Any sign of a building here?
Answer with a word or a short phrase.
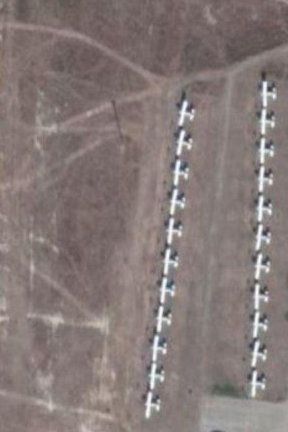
No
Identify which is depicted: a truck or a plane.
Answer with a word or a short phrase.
plane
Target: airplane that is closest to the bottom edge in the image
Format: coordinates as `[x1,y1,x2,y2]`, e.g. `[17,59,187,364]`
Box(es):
[144,393,160,419]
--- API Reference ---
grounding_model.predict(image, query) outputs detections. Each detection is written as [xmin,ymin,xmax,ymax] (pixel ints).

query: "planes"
[162,249,178,275]
[172,160,188,185]
[252,284,268,309]
[254,254,269,279]
[259,109,275,134]
[258,138,273,164]
[148,364,164,389]
[251,312,267,337]
[256,195,272,221]
[155,306,171,332]
[179,101,194,126]
[260,81,276,107]
[251,341,267,366]
[144,393,160,419]
[254,225,270,250]
[257,166,272,192]
[169,189,185,215]
[151,336,166,362]
[176,130,192,155]
[165,219,182,245]
[159,277,175,303]
[250,372,265,398]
